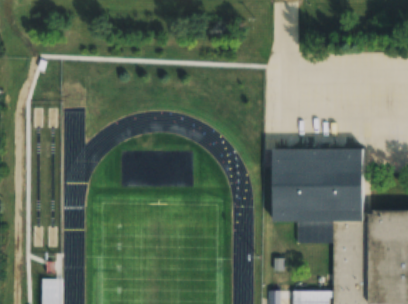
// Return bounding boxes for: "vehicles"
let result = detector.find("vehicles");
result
[298,120,304,136]
[324,122,329,137]
[314,118,320,134]
[331,122,338,136]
